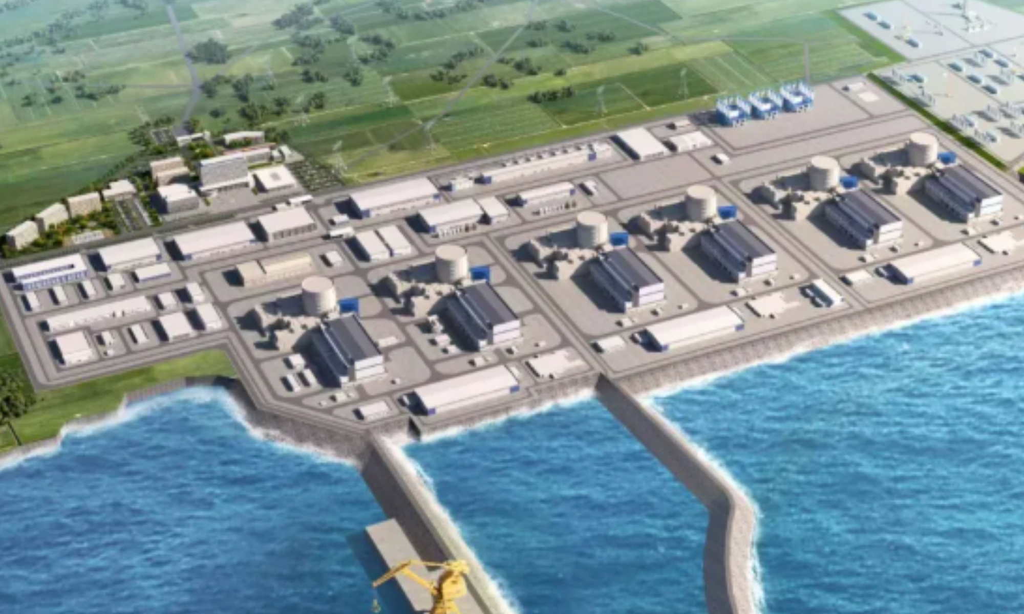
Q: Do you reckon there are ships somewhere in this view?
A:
No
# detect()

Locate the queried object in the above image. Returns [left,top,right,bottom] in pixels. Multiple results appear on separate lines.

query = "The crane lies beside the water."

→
[372,558,469,614]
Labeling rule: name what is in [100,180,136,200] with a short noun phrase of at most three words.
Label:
house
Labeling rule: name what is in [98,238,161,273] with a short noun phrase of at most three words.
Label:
building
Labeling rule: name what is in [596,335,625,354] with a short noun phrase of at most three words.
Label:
shed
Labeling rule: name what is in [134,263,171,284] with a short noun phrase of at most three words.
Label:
building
